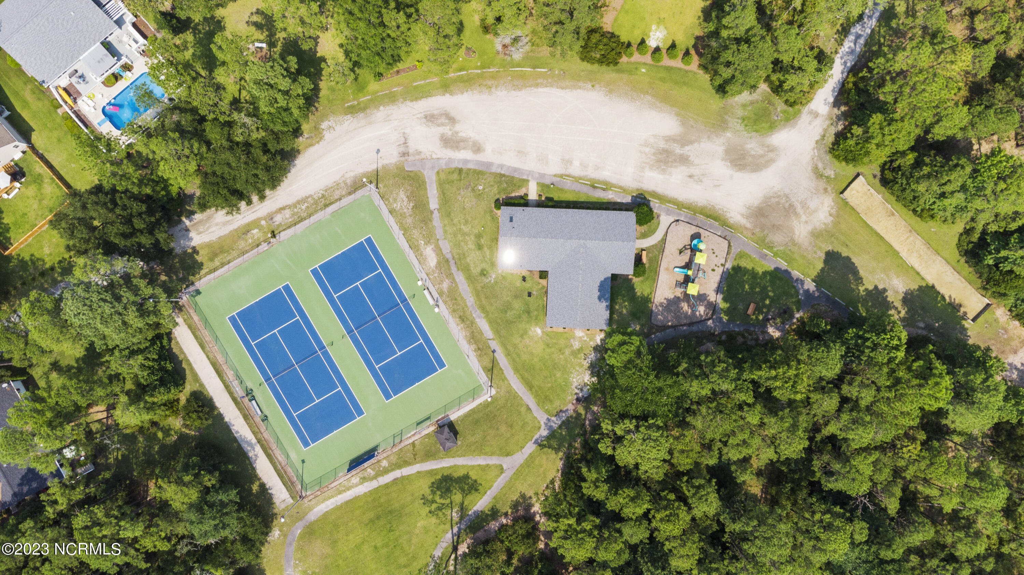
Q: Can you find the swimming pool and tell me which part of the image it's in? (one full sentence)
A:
You can find the swimming pool in the top left area of the picture.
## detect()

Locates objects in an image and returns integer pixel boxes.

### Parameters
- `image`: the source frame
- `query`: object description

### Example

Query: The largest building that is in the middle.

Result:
[498,206,636,329]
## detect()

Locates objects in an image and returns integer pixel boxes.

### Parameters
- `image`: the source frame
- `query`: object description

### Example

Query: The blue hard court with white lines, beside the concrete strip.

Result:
[227,282,365,450]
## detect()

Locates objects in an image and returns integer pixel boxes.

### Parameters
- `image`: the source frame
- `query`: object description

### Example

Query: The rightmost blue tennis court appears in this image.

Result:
[309,235,447,403]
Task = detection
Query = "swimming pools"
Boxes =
[98,70,166,131]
